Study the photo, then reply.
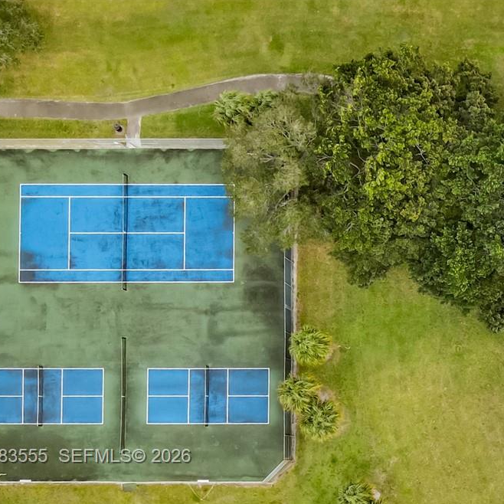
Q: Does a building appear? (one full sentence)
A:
No, this view has no building in it.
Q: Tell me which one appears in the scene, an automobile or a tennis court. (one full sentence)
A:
There is a tennis court in the scene.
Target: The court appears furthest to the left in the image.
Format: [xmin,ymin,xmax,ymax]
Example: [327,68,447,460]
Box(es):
[0,369,103,424]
